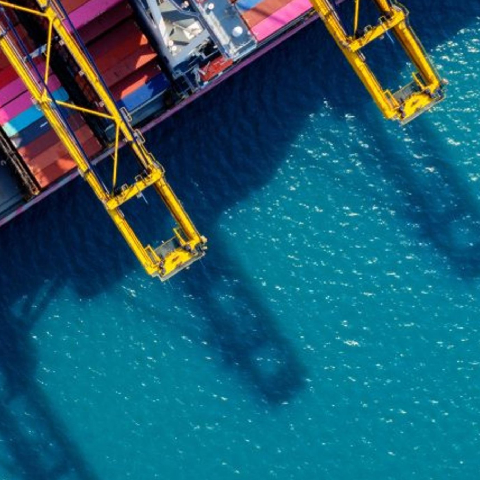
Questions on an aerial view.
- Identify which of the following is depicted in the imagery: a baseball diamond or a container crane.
container crane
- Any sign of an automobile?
No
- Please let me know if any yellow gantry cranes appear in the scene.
Yes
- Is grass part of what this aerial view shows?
No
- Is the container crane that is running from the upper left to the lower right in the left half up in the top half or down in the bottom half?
top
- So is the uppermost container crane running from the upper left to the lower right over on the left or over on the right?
right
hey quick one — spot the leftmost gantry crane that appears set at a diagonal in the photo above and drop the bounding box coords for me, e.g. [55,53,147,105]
[0,0,207,286]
